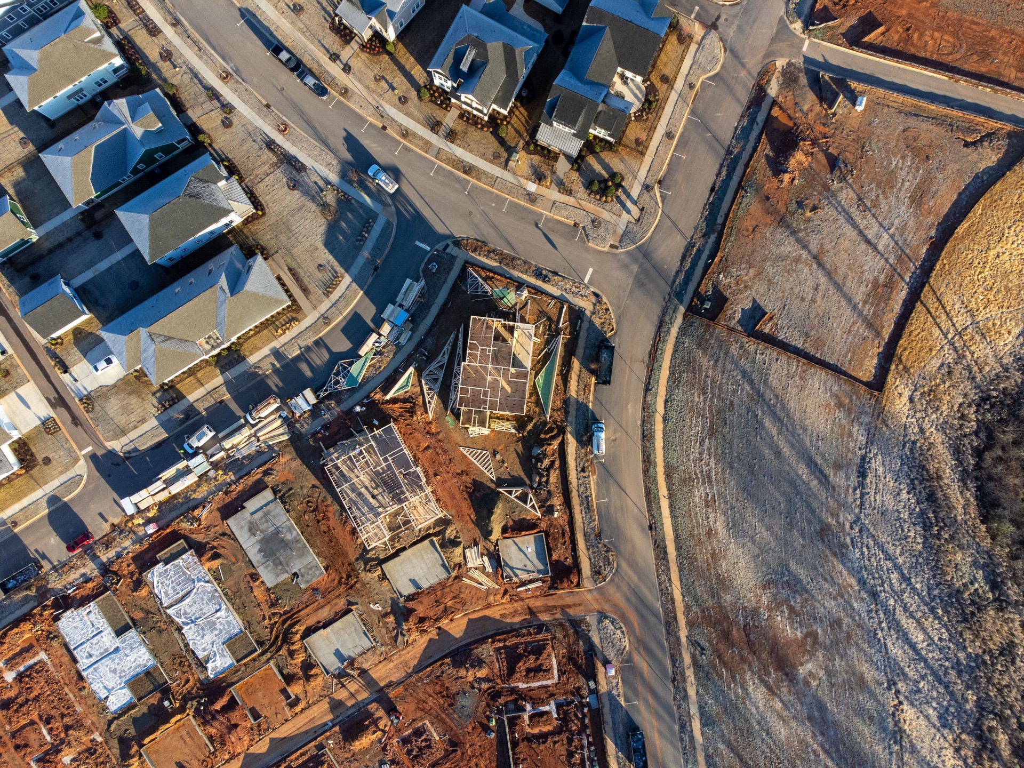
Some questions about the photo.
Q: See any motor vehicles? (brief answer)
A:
Yes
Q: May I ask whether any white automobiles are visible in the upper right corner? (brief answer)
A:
No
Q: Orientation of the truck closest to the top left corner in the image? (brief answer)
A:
on a diagonal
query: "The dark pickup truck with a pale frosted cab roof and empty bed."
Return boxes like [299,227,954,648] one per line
[266,39,303,73]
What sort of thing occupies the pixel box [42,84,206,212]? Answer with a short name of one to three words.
building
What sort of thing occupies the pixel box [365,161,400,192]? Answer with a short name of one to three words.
van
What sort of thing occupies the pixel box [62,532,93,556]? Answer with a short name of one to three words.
car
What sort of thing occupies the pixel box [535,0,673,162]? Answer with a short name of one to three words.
house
